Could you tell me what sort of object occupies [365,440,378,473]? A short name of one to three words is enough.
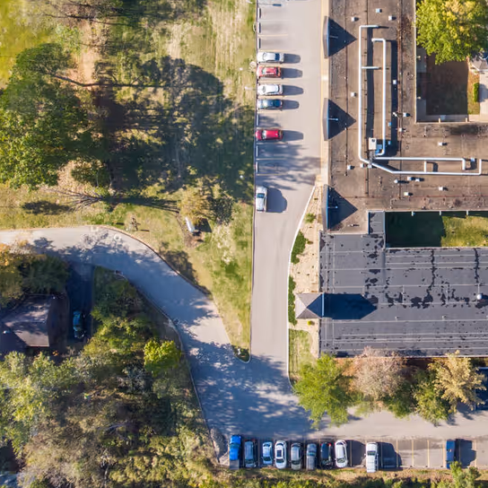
vehicle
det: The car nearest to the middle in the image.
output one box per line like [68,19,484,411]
[255,184,268,211]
